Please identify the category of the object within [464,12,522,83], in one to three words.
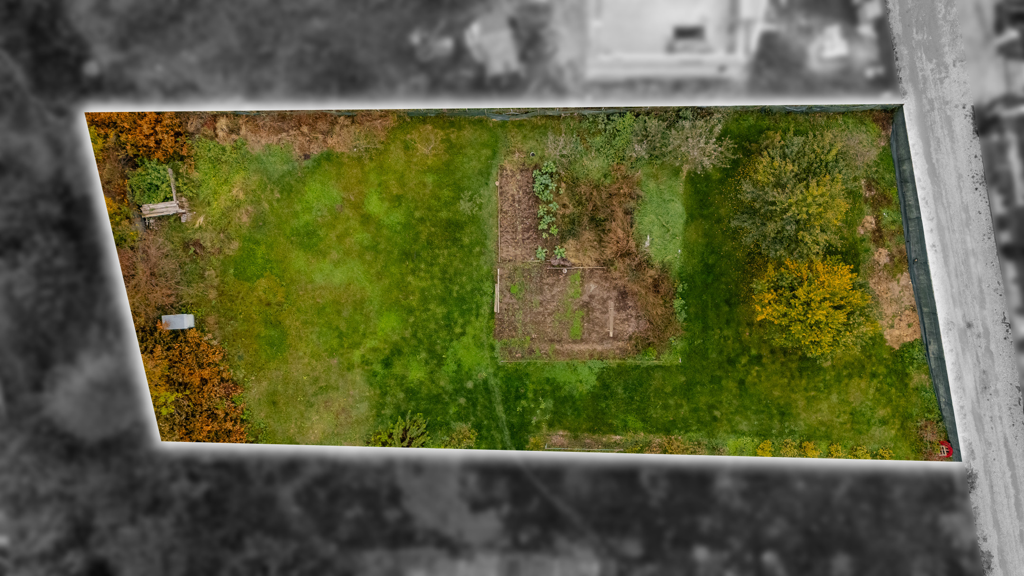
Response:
shed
